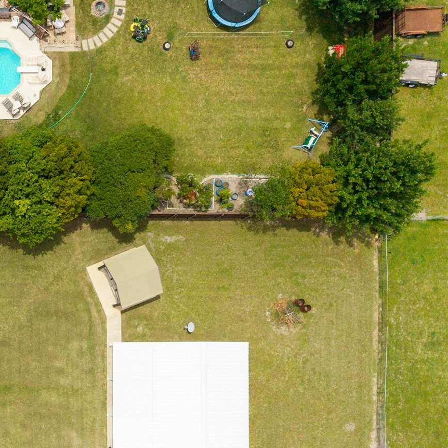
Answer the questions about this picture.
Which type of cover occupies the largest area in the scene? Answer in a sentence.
For the most part, this view shows grass.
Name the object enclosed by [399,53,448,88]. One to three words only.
trailer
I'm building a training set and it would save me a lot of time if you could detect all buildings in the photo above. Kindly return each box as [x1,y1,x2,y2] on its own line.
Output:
[94,245,163,312]
[105,342,248,448]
